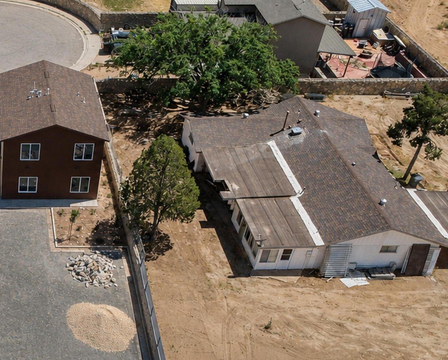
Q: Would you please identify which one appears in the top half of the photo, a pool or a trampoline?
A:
trampoline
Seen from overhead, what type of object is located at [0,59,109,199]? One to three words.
building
